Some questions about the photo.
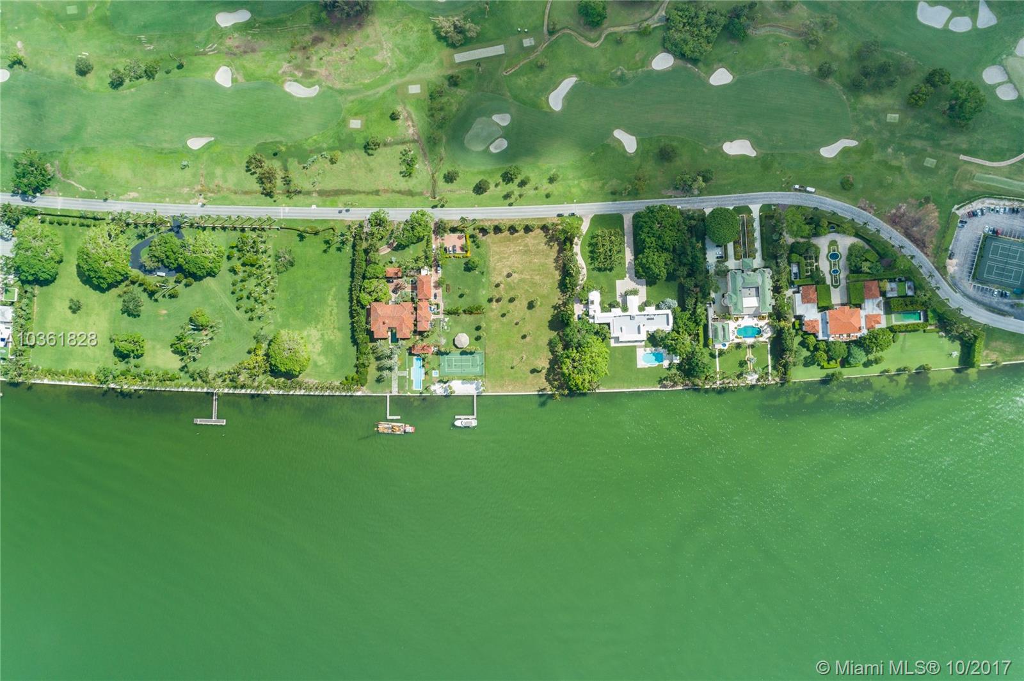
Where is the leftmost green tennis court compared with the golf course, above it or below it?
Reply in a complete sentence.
As seen from overhead, the leftmost green tennis court falls below the golf course in the picture.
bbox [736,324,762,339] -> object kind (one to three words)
swimming pool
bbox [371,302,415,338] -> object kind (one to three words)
house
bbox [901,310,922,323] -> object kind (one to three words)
swimming pool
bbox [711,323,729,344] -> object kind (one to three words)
building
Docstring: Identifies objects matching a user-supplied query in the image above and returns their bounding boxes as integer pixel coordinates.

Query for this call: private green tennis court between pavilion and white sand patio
[440,352,484,376]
